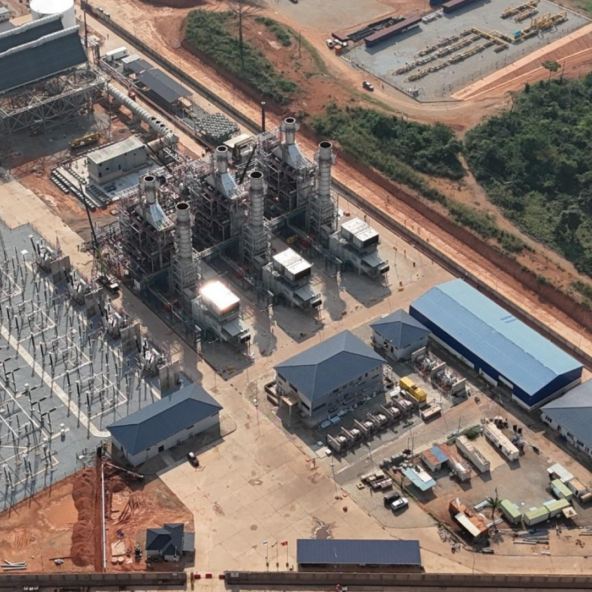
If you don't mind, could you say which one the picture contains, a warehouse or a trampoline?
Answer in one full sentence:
Of the two, only a warehouse appears.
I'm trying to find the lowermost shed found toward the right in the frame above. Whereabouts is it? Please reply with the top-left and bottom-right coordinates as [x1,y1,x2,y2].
[298,537,422,573]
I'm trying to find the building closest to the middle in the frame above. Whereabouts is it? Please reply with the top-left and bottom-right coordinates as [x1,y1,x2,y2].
[255,248,334,315]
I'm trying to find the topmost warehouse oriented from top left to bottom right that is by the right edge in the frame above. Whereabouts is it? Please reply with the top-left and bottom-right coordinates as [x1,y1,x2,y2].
[408,277,585,410]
